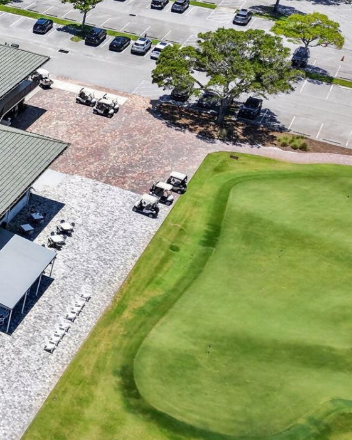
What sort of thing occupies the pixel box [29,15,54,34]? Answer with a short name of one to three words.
car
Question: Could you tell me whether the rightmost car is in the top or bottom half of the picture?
top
